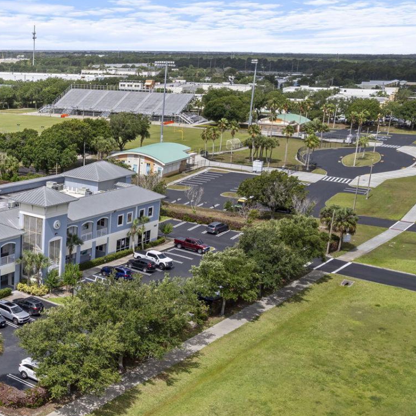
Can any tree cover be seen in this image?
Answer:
Yes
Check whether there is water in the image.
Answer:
No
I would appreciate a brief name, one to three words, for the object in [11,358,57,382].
car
